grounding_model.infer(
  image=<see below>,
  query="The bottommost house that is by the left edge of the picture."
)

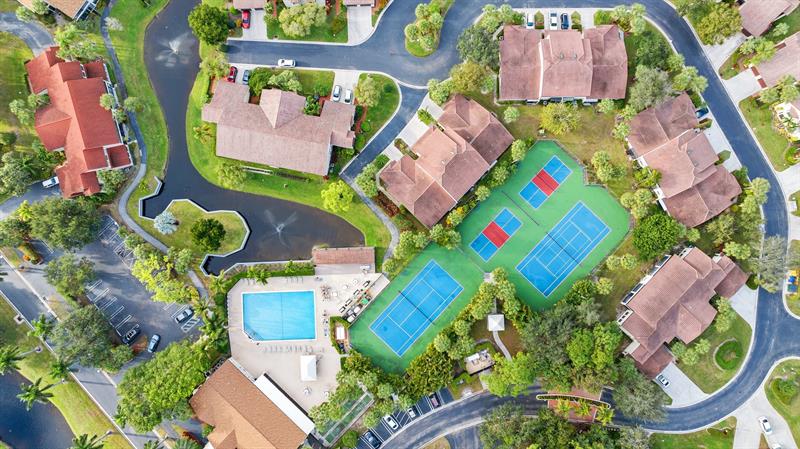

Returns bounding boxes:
[16,44,139,197]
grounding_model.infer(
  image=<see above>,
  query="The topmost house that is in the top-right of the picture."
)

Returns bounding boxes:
[734,0,795,37]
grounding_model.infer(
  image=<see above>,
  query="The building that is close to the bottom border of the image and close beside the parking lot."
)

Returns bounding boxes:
[188,355,325,449]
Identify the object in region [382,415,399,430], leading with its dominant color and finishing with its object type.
white car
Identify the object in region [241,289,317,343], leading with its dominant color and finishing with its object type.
blue swimming pool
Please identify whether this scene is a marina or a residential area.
residential area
